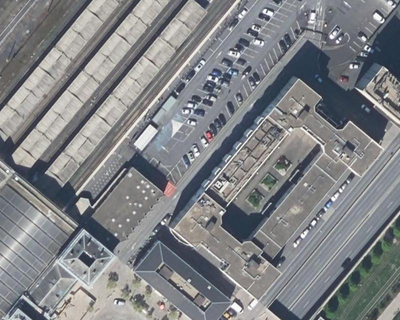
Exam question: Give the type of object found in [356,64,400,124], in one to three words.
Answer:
building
